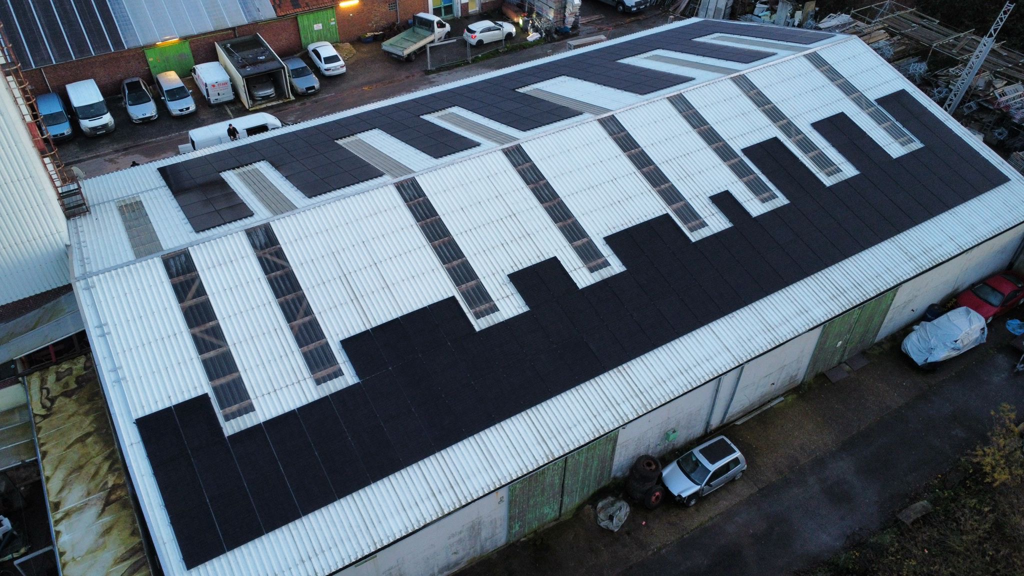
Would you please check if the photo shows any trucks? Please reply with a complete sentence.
Yes, the frame does contain a truck.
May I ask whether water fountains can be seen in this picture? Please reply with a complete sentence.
No, there is no water fountain in the image.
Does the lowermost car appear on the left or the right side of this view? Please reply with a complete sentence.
It is on the right.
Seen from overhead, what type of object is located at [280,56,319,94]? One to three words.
car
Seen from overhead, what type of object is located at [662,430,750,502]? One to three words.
car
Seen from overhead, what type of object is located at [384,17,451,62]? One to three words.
truck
